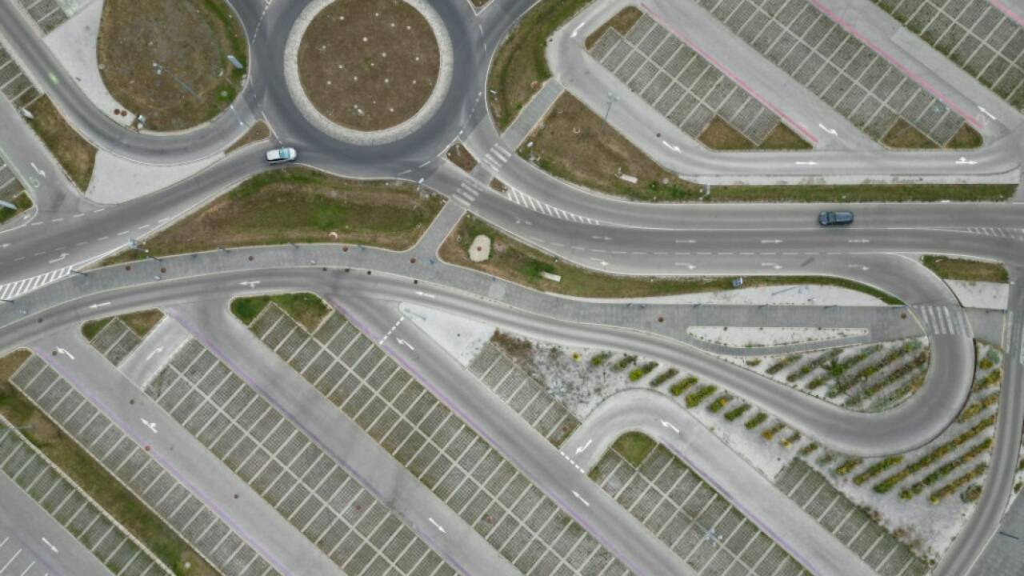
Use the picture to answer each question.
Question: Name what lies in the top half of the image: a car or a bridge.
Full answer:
Visible in the top half of the image is a car.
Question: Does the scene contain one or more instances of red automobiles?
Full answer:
No, there is no red automobile in the image.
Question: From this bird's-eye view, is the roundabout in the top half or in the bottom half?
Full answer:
It is in the top half that the roundabout appears.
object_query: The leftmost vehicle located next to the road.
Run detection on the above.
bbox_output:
[264,147,295,164]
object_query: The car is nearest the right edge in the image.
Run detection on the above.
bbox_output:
[818,210,855,226]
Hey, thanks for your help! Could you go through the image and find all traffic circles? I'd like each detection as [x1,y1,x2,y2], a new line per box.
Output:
[227,0,537,193]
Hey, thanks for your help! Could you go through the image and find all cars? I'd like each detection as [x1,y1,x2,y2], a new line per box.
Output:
[818,210,855,226]
[264,147,295,164]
